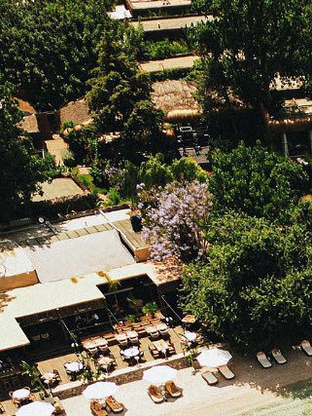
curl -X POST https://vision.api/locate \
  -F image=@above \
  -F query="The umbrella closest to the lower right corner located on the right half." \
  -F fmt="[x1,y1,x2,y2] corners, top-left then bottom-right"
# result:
[198,352,232,381]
